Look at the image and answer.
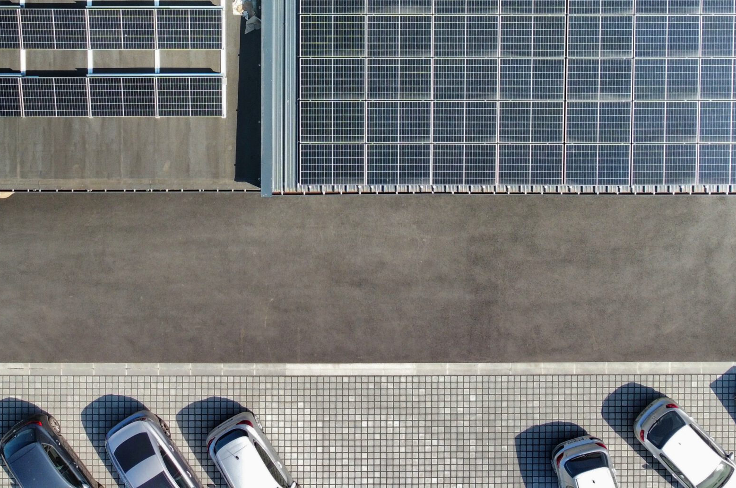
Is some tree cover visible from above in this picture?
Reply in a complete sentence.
No, there's no tree cover in this view.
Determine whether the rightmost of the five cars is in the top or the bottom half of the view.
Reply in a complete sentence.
The bottom half of the photo is where the rightmost of the five cars is.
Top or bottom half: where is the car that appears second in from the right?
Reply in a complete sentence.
Seen from above, the car that appears second in from the right lies in the bottom half of the view.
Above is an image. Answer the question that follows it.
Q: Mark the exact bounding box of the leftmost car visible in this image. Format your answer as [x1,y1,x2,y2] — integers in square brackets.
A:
[0,414,100,488]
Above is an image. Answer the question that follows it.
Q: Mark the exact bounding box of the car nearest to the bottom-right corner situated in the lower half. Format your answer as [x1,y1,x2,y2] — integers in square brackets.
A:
[634,398,736,488]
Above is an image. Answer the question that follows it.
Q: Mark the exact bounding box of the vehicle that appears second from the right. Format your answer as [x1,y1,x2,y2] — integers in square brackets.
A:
[553,440,623,488]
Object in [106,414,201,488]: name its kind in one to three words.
car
